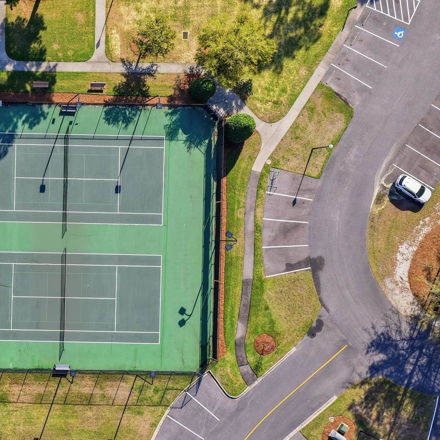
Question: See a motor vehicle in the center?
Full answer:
No, looking in the center, there is no motor vehicle.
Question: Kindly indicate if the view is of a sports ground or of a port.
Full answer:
What you see here is a sports ground.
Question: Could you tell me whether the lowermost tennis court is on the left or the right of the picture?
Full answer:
The lowermost tennis court is on the left side of the image.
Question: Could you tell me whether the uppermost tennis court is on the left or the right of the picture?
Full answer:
The uppermost tennis court appears in the left half of the scene.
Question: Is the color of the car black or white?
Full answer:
The car is white.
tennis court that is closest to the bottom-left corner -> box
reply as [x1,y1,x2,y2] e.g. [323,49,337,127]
[0,235,213,372]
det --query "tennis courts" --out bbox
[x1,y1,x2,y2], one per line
[0,235,213,372]
[0,106,215,237]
